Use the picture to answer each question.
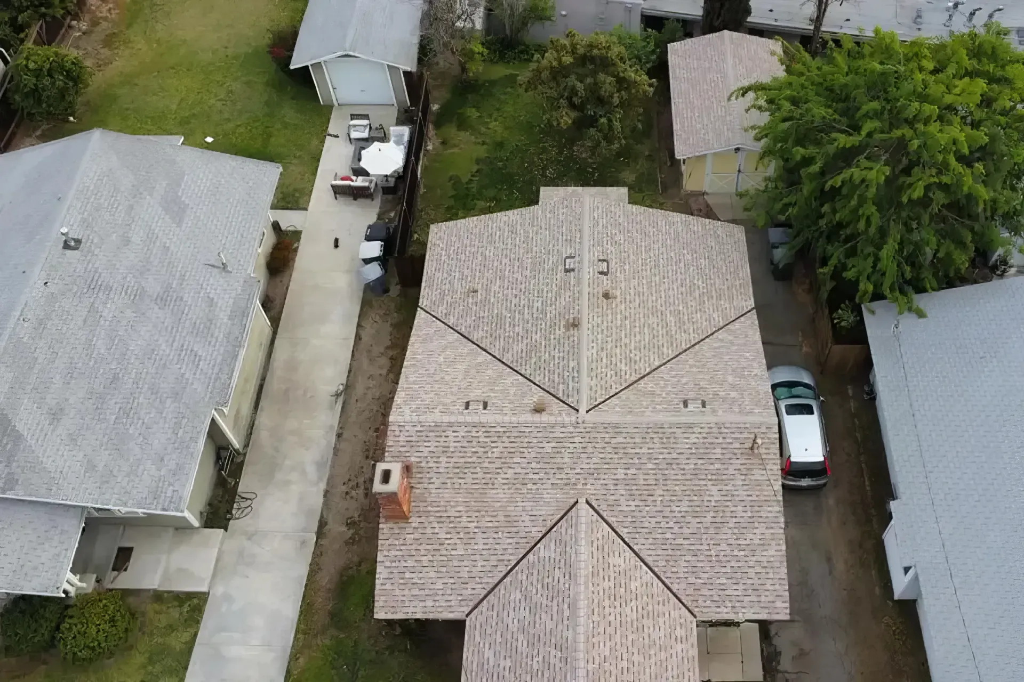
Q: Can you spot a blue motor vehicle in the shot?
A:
No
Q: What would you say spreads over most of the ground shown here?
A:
buildings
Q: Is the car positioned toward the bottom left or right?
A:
right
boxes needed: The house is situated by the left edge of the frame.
[0,126,283,607]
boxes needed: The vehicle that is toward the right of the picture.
[767,367,835,491]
